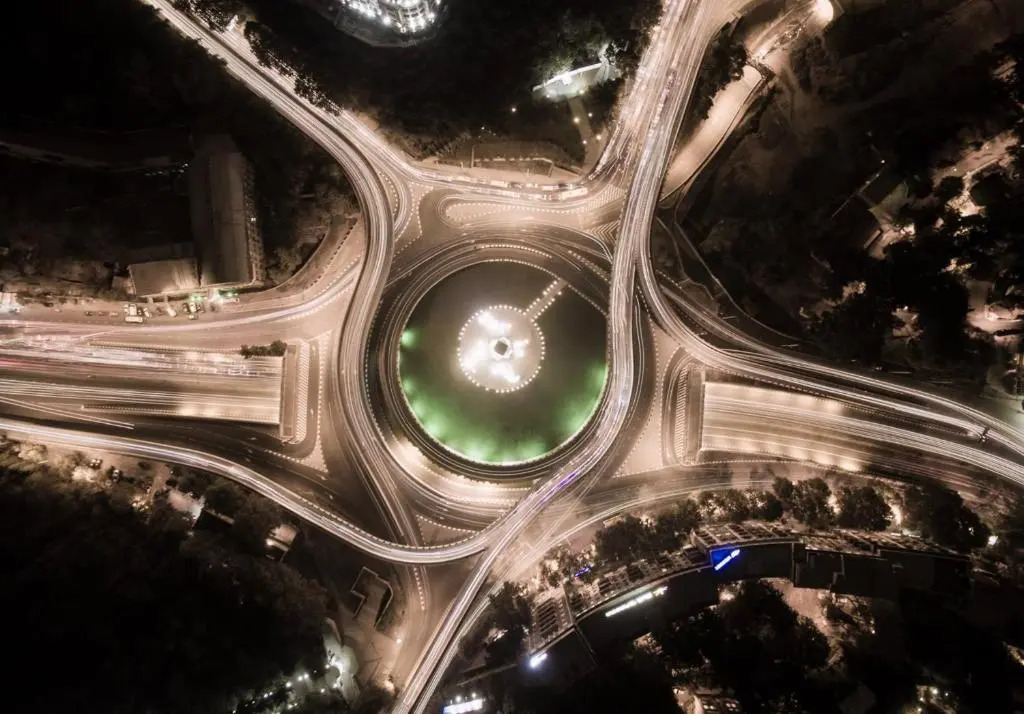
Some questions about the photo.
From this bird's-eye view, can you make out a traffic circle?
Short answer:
Yes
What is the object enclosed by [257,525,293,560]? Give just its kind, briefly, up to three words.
house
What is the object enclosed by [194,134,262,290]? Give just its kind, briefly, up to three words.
building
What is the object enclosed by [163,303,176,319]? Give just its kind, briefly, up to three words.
vehicle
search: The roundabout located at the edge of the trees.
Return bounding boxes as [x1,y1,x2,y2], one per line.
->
[361,212,635,514]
